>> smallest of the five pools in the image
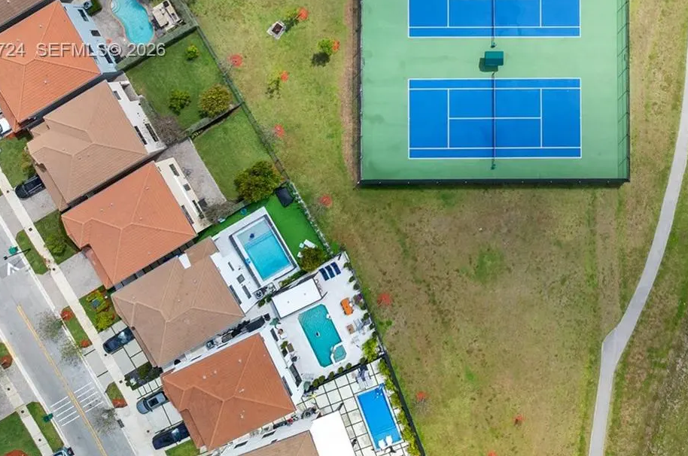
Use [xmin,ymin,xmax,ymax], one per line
[332,346,348,364]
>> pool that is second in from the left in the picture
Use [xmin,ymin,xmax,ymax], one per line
[232,215,295,286]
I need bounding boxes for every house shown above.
[111,232,256,369]
[27,81,163,212]
[0,0,114,134]
[212,415,328,456]
[61,160,212,290]
[160,323,303,451]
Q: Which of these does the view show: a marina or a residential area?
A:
residential area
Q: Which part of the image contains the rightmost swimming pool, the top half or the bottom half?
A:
bottom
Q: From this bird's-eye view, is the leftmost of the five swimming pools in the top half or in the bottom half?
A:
top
